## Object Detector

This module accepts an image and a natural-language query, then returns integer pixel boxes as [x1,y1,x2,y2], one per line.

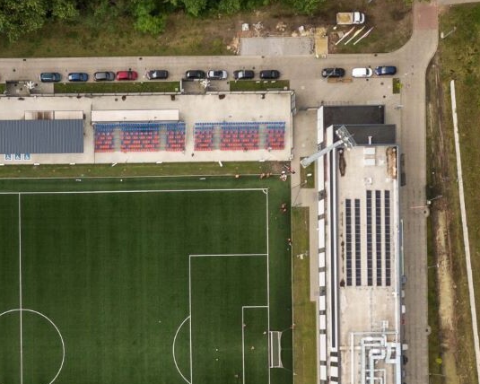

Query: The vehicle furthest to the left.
[40,70,62,83]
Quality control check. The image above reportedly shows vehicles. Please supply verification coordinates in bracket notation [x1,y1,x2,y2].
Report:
[40,70,62,83]
[68,72,88,82]
[320,66,345,78]
[257,68,280,80]
[231,68,255,80]
[146,68,169,80]
[373,64,397,76]
[117,69,137,81]
[349,66,373,78]
[183,68,206,80]
[334,12,363,25]
[93,72,114,81]
[206,68,229,80]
